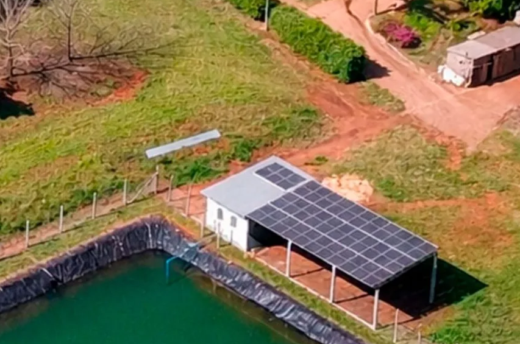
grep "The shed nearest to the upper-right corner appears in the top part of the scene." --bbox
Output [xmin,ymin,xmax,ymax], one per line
[451,23,520,87]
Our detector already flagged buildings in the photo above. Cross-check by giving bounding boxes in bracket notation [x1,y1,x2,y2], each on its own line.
[200,151,446,329]
[451,23,520,87]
